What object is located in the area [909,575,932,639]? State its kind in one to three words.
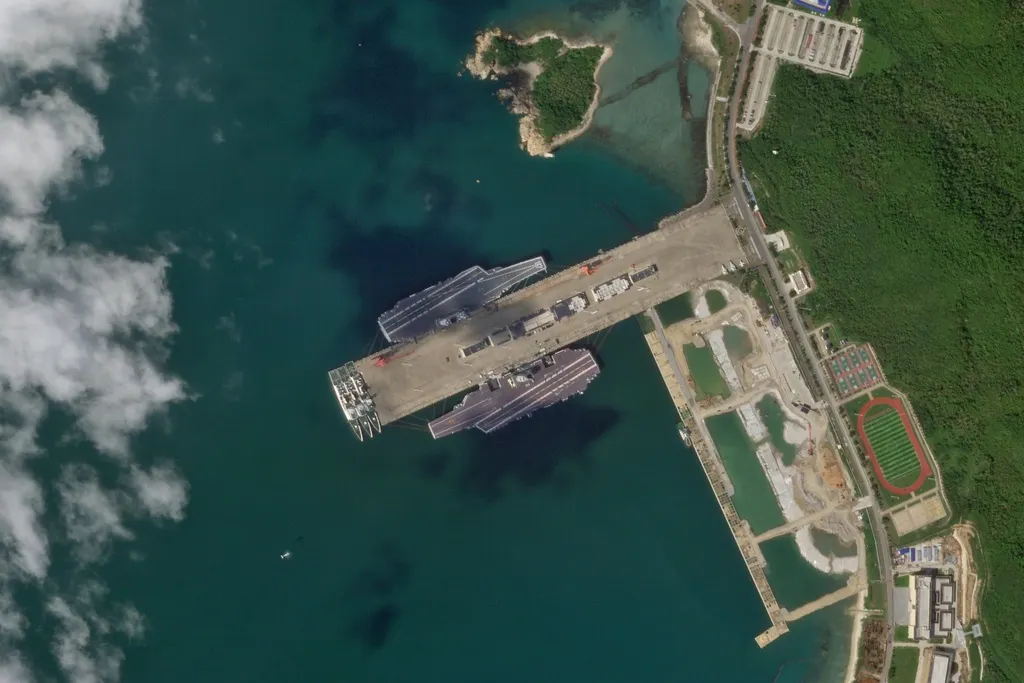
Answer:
building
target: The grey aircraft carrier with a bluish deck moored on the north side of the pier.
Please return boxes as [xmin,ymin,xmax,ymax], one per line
[378,257,548,344]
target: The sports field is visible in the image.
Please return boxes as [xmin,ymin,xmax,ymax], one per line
[863,404,921,487]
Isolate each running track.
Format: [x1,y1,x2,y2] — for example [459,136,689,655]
[857,391,928,493]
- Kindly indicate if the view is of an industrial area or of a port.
port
